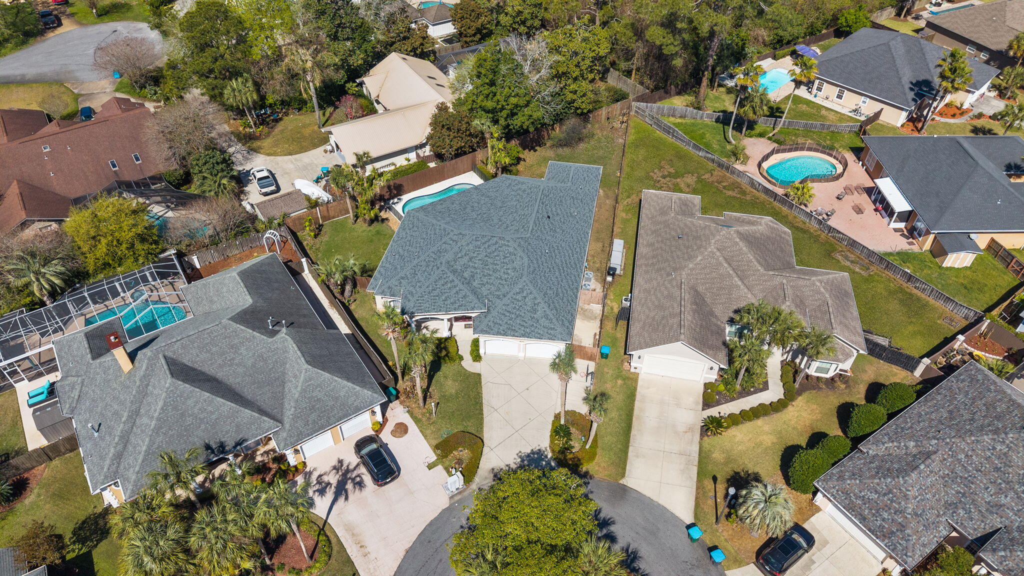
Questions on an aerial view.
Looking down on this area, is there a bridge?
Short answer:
No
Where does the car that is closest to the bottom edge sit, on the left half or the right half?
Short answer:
right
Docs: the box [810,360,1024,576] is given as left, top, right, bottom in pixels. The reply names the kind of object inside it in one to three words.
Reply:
house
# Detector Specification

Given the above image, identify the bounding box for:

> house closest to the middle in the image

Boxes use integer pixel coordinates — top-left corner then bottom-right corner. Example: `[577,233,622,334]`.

[366,161,603,359]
